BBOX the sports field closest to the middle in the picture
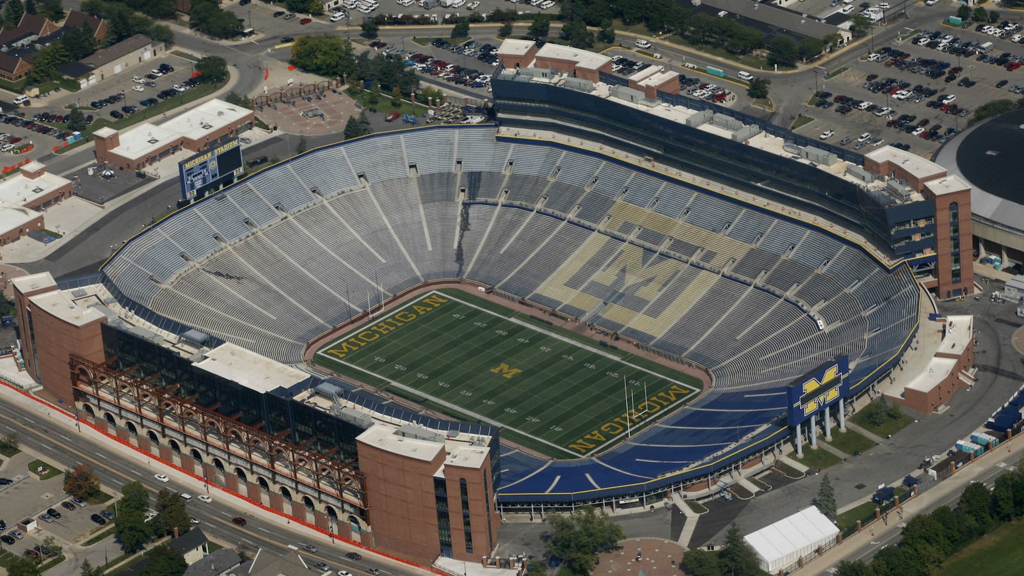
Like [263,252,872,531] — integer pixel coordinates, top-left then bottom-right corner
[312,288,705,461]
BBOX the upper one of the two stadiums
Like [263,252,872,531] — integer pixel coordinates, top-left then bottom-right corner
[930,103,1024,286]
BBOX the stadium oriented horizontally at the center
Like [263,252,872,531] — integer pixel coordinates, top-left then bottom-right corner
[95,123,929,529]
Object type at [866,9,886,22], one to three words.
vehicle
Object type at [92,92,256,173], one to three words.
building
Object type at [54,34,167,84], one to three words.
building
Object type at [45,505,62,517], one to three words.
vehicle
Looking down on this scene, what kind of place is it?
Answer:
sports ground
